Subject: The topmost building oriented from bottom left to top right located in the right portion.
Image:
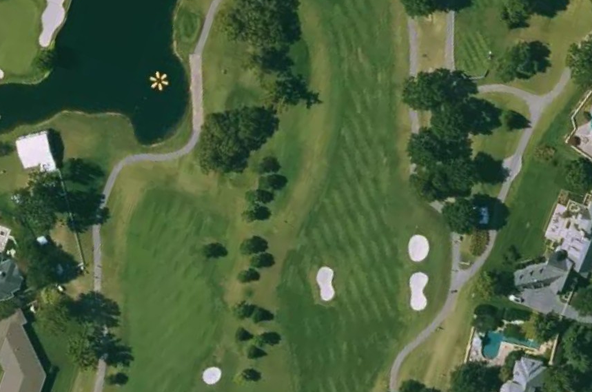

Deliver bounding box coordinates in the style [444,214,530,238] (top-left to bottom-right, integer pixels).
[512,185,592,296]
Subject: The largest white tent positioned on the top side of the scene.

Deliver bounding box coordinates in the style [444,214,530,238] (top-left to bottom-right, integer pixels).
[17,132,54,168]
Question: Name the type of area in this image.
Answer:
golf course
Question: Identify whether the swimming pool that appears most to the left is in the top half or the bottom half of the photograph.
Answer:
bottom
